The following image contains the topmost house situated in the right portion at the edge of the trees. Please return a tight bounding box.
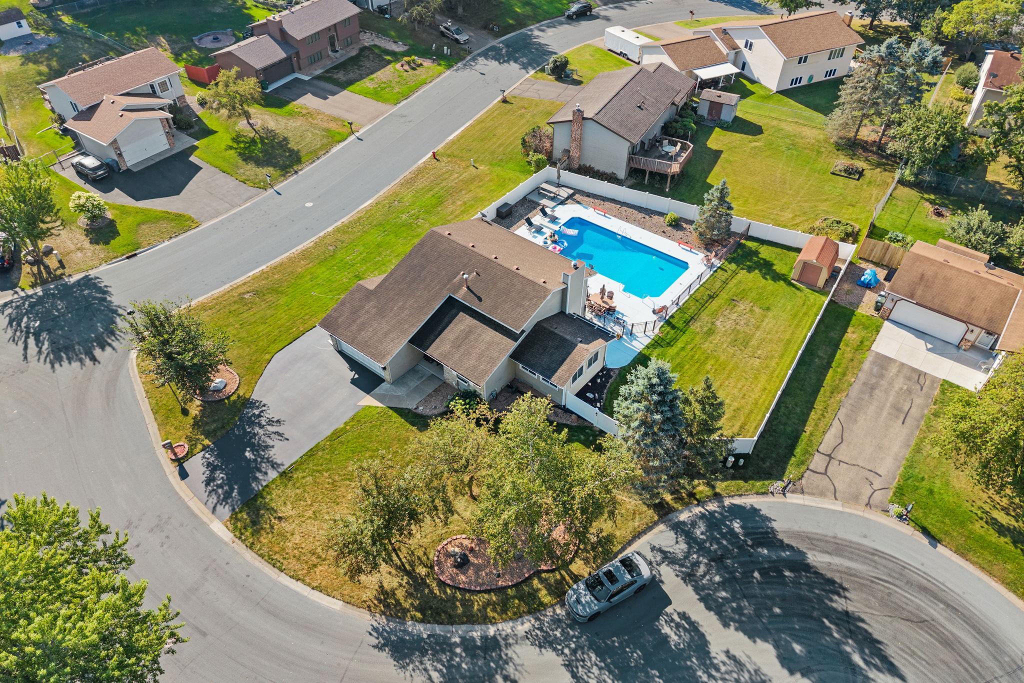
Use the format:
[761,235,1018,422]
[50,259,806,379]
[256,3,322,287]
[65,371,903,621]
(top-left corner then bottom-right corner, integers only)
[640,4,865,90]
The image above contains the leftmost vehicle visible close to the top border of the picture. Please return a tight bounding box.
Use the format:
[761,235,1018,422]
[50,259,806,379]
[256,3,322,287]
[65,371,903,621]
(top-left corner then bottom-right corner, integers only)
[439,21,467,42]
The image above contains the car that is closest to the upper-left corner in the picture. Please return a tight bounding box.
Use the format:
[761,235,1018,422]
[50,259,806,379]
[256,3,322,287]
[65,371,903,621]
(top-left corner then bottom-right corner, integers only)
[71,151,108,177]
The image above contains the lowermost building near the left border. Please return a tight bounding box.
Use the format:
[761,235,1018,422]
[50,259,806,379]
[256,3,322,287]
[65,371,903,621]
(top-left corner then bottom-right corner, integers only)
[34,47,187,170]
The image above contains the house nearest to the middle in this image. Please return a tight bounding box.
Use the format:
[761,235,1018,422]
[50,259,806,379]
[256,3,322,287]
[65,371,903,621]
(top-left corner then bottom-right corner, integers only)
[315,207,619,408]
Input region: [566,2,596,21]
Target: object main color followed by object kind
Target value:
black car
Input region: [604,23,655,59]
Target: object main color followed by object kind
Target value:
white trailer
